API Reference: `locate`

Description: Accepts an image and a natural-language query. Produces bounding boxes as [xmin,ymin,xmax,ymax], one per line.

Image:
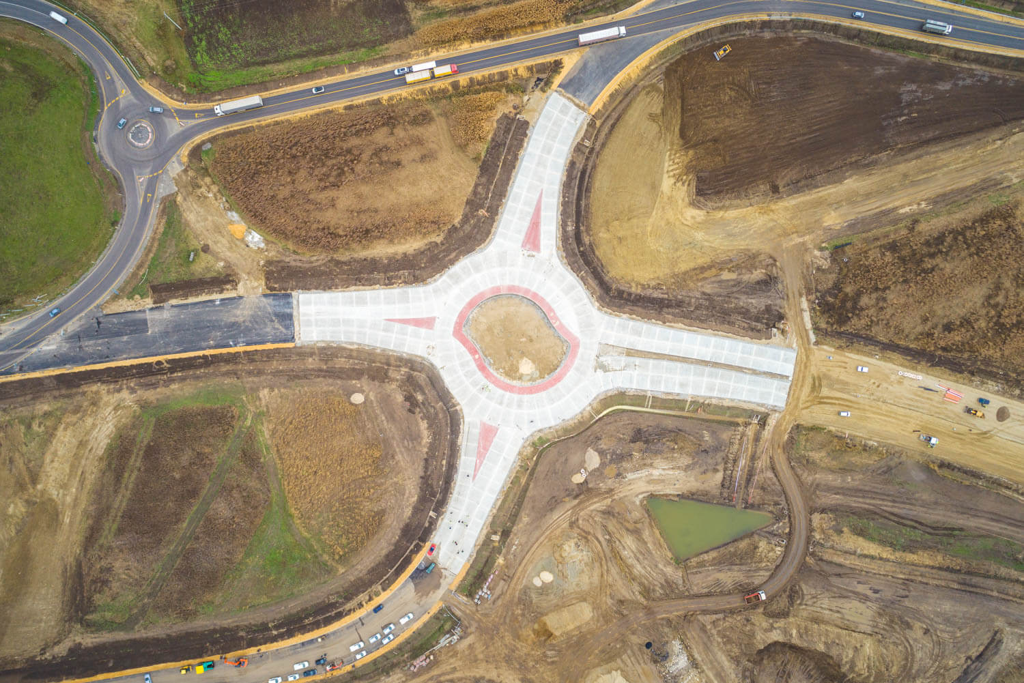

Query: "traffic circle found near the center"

[386,190,627,481]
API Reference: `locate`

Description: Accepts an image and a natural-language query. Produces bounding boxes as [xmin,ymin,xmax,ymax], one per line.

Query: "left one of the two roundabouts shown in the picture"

[99,86,192,179]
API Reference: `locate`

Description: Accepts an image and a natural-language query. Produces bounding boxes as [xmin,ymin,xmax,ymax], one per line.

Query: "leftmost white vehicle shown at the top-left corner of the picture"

[48,9,71,26]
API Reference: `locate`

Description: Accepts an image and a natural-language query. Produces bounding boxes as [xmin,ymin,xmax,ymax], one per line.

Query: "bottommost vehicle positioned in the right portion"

[744,591,766,605]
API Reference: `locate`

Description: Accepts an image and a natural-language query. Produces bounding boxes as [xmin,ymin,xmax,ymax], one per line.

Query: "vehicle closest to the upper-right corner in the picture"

[920,20,952,36]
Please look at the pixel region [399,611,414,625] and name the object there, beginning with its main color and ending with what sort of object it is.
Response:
white vehicle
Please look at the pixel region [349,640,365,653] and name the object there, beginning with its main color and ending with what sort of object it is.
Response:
white vehicle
